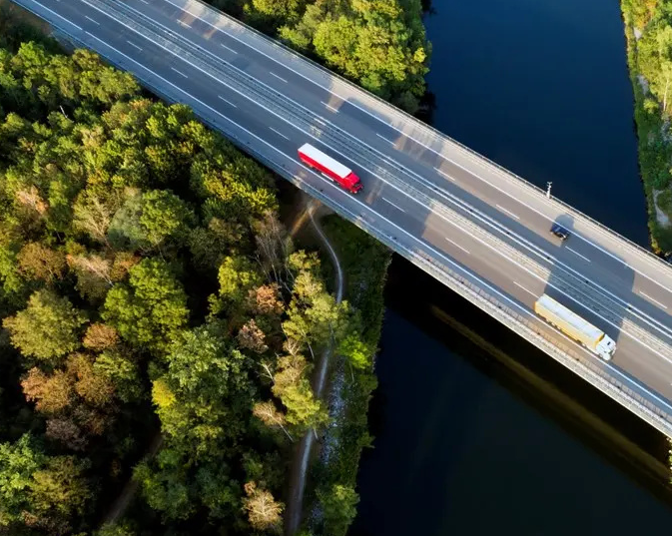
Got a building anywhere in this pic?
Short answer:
No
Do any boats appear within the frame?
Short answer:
No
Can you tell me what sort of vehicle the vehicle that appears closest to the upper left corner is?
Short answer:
truck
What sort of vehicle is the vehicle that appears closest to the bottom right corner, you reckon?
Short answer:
truck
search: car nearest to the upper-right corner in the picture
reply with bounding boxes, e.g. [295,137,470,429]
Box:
[549,225,572,241]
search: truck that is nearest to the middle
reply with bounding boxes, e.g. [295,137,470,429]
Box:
[297,142,361,193]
